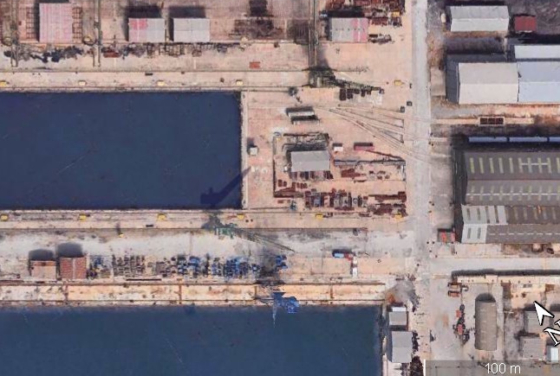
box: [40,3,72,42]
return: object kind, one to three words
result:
shed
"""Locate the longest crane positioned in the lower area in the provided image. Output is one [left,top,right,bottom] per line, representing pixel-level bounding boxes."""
[213,217,296,252]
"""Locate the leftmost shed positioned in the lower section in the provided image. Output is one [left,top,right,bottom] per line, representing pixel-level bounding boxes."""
[31,261,56,279]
